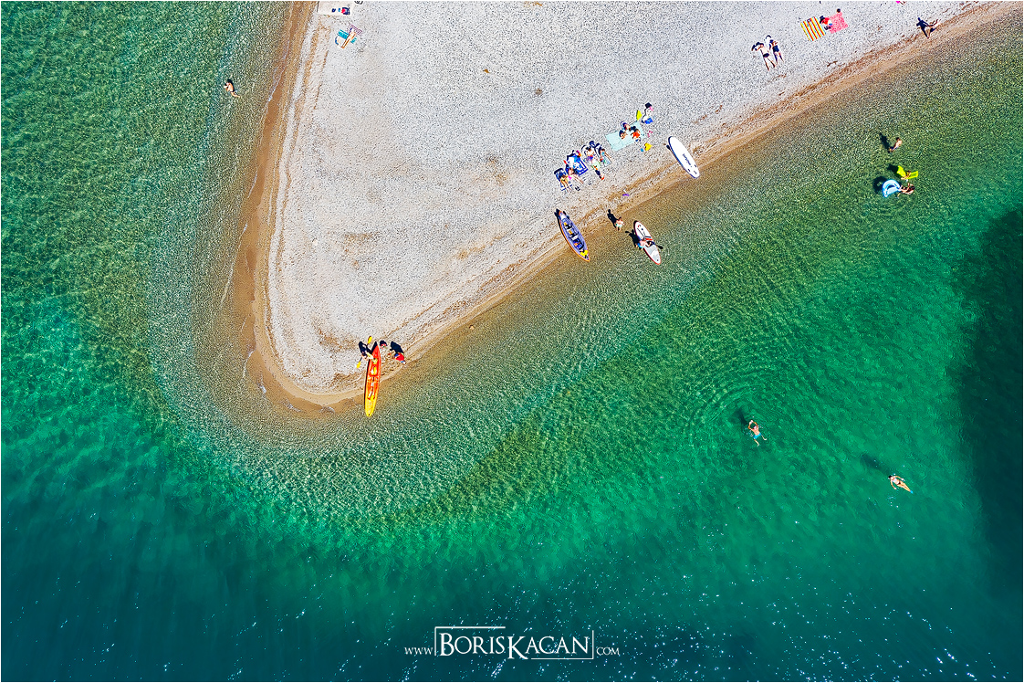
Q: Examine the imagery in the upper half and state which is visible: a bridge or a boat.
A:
boat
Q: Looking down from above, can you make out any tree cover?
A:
No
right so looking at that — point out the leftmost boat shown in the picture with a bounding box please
[364,344,380,417]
